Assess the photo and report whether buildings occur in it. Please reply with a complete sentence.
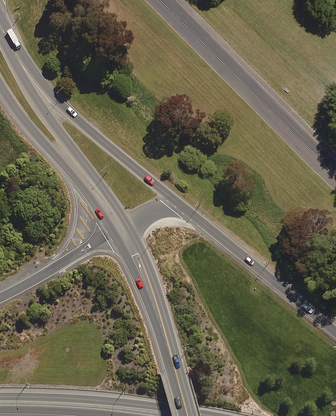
No, there appears to be no building in this shot.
